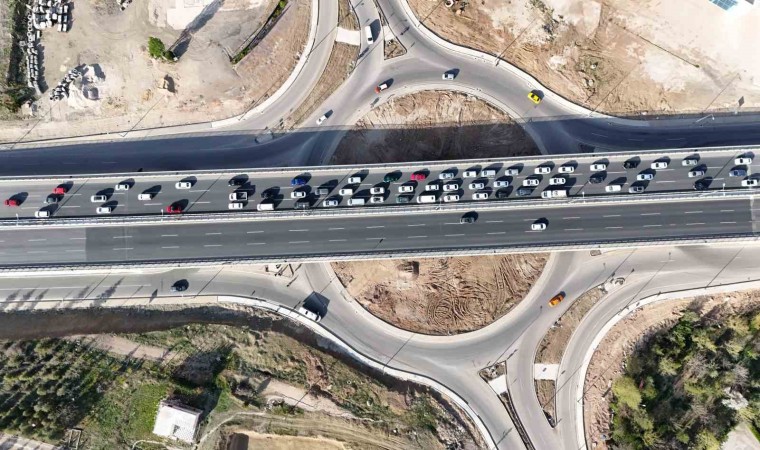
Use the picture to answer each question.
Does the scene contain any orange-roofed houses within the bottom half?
No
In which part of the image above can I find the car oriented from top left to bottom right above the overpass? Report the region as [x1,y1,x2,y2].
[526,91,543,105]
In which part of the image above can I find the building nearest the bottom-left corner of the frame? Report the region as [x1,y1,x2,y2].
[152,394,204,443]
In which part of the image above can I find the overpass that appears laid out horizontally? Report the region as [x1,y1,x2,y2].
[0,144,760,274]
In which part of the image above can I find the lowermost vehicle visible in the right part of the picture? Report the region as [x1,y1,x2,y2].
[548,293,565,306]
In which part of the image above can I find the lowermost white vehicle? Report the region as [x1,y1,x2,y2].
[297,306,321,323]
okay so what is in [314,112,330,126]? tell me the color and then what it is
white car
